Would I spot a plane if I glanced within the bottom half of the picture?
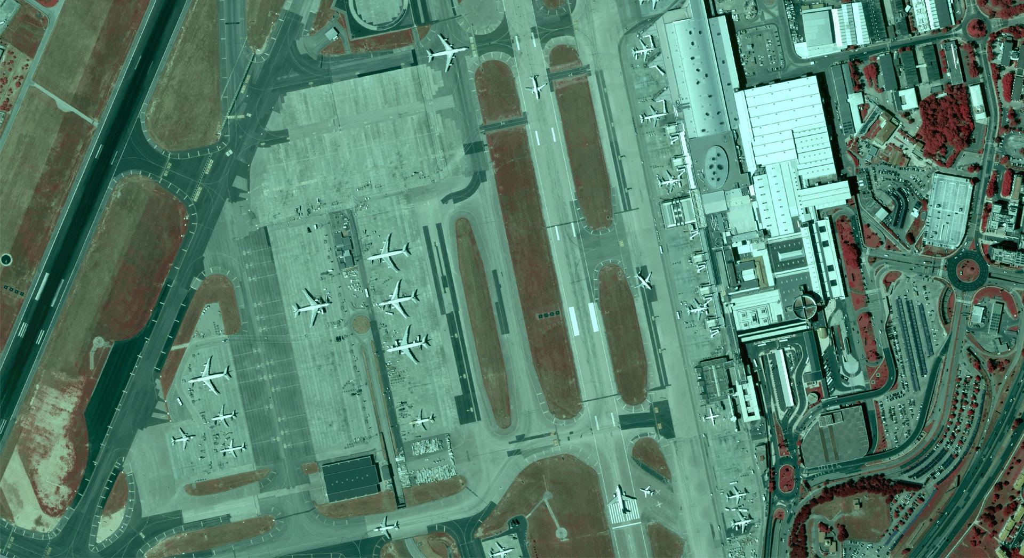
Yes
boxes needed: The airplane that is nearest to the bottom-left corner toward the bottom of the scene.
[171,429,195,450]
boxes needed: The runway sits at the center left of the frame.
[0,0,186,442]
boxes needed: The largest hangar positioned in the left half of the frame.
[323,456,380,503]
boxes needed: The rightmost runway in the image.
[503,0,648,558]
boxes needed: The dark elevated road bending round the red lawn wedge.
[795,347,895,429]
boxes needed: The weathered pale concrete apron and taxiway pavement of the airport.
[70,0,768,558]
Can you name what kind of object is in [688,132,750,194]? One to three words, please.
building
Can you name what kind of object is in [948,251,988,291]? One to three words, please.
roundabout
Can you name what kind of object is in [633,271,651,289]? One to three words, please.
airplane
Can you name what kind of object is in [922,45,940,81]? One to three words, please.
shed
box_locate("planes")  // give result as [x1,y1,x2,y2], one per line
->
[188,356,232,396]
[640,106,668,128]
[524,75,547,99]
[639,0,656,11]
[387,324,432,364]
[687,299,708,321]
[488,541,515,558]
[212,404,238,427]
[367,232,411,273]
[640,486,655,498]
[730,512,752,534]
[374,516,400,538]
[633,271,651,289]
[631,40,654,61]
[292,288,331,328]
[703,410,719,426]
[609,484,638,514]
[220,439,247,459]
[427,33,469,73]
[378,279,420,318]
[657,171,682,195]
[171,429,195,450]
[725,487,748,506]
